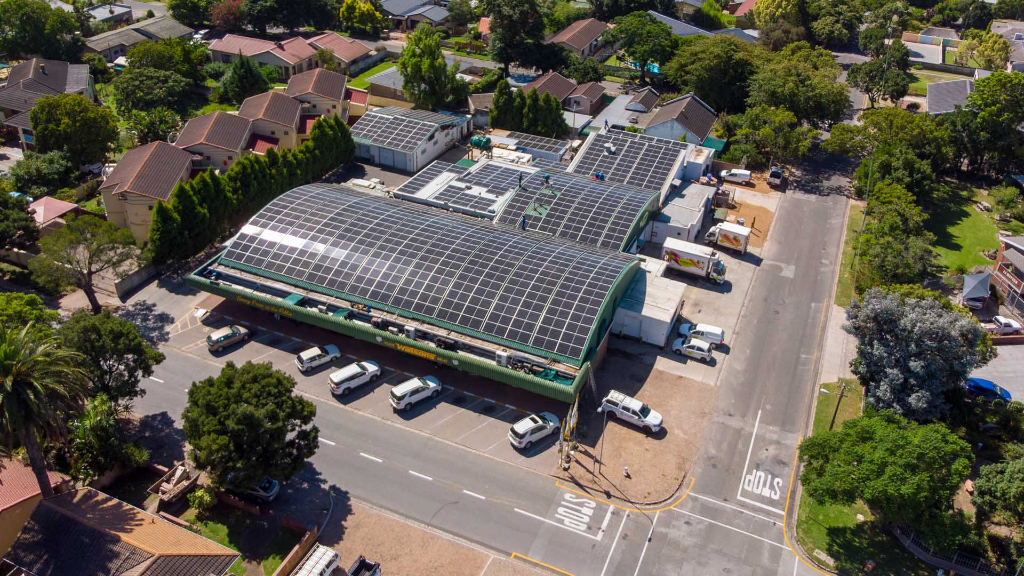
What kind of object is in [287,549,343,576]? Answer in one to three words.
vehicle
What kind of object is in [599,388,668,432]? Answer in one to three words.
truck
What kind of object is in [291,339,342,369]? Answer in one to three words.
car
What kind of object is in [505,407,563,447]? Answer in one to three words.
car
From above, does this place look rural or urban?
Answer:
urban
